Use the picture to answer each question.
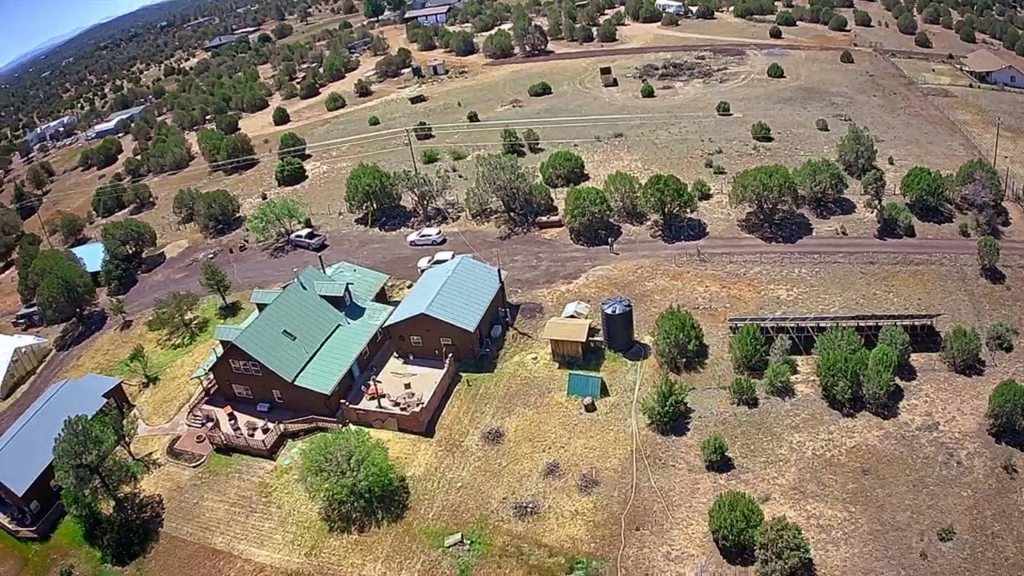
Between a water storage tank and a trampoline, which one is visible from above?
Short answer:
water storage tank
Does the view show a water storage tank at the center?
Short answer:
Yes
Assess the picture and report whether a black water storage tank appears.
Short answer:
Yes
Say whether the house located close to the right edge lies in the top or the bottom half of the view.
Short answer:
top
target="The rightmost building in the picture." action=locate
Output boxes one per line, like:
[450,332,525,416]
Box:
[960,53,1024,86]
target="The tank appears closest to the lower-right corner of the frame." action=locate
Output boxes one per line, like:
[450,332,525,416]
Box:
[601,305,635,357]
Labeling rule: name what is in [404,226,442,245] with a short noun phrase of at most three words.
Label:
car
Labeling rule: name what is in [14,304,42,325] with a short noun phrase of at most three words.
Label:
truck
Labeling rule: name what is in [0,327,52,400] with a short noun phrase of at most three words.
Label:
barn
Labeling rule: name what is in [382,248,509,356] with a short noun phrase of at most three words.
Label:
building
